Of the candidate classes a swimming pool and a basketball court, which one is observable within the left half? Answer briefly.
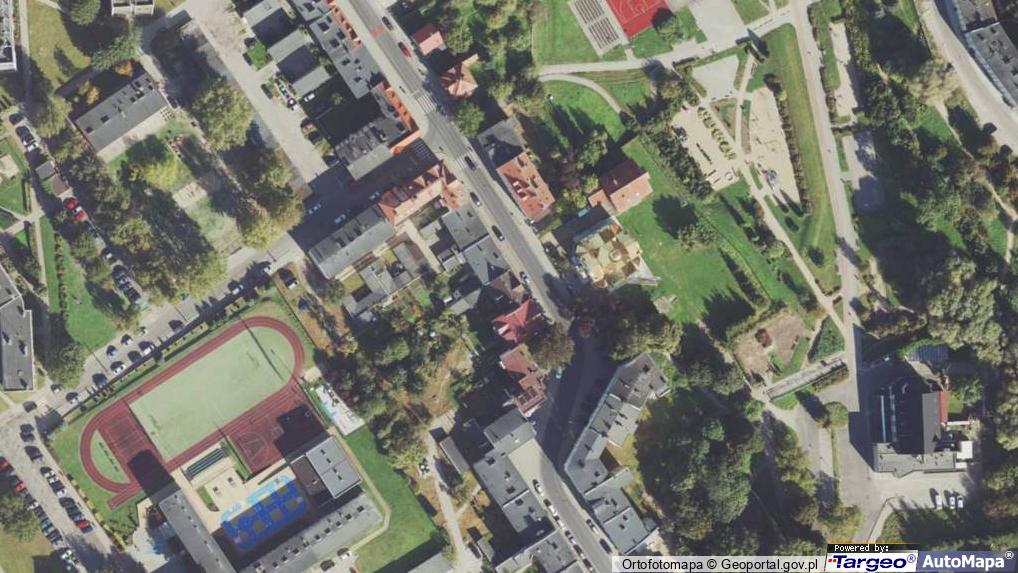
basketball court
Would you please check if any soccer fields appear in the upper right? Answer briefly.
No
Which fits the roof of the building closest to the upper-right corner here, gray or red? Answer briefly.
gray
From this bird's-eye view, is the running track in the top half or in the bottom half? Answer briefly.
bottom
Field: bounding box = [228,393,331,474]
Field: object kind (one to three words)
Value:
basketball court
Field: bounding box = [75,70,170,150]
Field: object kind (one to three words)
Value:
house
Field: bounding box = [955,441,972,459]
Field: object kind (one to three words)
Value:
shed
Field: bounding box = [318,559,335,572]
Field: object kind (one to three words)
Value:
vehicle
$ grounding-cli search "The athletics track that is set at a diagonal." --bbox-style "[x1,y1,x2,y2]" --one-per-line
[79,316,311,509]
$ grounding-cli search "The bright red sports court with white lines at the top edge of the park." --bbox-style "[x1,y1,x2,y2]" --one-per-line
[604,0,682,40]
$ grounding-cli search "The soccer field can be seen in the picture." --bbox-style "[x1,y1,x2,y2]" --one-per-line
[90,327,295,481]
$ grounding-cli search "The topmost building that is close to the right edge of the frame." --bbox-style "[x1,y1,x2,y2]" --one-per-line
[947,0,999,34]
